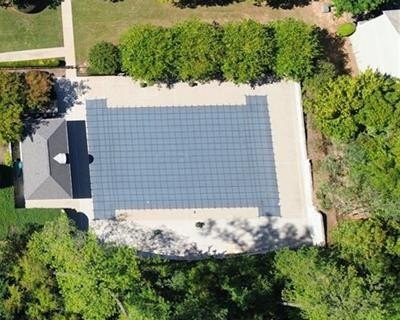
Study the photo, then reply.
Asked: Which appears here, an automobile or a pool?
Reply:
pool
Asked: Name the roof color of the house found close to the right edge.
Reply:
white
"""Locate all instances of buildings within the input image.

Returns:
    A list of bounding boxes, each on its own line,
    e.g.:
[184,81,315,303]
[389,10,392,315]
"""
[20,118,73,200]
[340,8,400,82]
